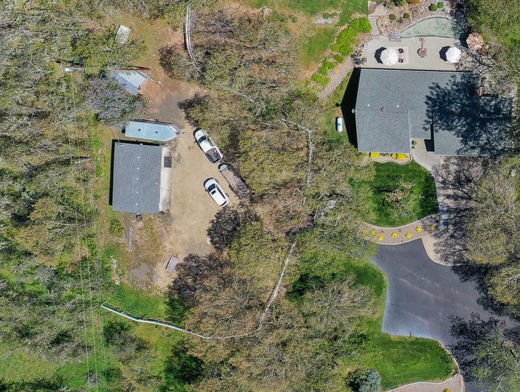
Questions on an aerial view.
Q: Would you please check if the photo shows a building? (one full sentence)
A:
Yes, the photo shows a building.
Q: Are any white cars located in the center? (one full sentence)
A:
Yes, there is a white car in the center.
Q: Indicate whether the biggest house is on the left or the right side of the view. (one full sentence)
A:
The biggest house sits on the right side.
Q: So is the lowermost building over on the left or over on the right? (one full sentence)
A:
The lowermost building is on the left side of the image.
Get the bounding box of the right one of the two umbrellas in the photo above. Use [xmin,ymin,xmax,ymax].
[446,48,461,63]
